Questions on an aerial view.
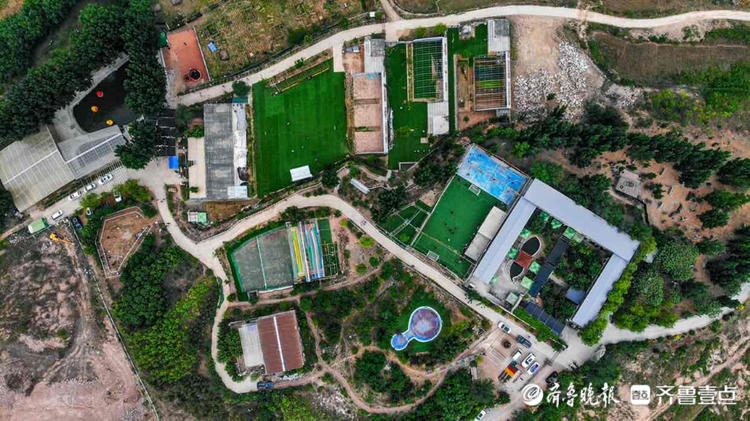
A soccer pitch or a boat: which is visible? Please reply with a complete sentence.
This aerial view contains a soccer pitch.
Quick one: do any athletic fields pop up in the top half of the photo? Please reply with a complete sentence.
Yes, an athletic field is visible in the top half of the photo.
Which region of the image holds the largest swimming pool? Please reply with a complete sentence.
The largest swimming pool is located in the bottom region of the scene.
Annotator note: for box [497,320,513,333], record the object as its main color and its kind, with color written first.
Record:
white vehicle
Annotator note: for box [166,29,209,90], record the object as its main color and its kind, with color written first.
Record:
red sports court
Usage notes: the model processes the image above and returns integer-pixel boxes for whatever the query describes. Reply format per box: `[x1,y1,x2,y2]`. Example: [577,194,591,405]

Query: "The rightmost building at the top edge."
[486,20,510,53]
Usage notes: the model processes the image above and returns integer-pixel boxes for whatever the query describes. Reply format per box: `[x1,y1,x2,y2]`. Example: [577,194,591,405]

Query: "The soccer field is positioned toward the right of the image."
[412,175,509,278]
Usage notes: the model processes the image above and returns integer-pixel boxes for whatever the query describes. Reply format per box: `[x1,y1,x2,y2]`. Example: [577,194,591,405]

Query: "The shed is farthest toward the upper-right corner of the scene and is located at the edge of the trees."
[612,171,639,198]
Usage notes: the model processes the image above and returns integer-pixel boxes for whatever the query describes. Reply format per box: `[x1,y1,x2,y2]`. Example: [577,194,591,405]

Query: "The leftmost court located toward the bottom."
[232,228,294,293]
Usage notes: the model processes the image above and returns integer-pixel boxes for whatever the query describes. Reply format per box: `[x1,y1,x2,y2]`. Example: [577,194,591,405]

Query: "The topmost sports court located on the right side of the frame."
[457,144,527,204]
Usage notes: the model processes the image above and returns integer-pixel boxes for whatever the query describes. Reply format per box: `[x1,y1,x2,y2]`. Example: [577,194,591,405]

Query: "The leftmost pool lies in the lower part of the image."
[391,308,442,351]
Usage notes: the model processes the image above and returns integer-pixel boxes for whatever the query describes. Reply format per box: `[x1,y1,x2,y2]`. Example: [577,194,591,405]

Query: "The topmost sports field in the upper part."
[252,59,350,197]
